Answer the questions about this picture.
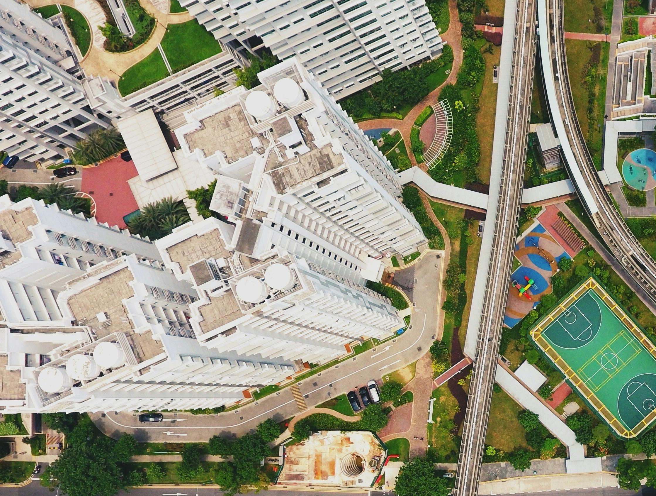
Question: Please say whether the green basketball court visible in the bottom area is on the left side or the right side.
right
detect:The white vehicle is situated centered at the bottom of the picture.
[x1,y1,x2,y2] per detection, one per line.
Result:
[367,380,381,402]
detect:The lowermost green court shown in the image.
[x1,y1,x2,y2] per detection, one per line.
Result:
[527,273,656,440]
